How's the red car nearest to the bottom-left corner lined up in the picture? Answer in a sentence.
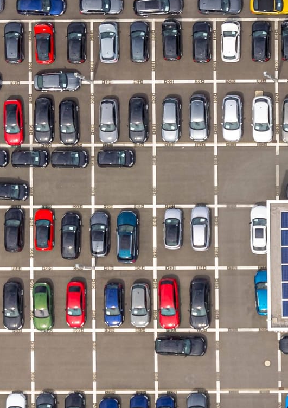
In this picture, the red car nearest to the bottom-left corner lies up and down.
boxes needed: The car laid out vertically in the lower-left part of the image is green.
[31,283,54,331]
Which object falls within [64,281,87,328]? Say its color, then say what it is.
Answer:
red car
